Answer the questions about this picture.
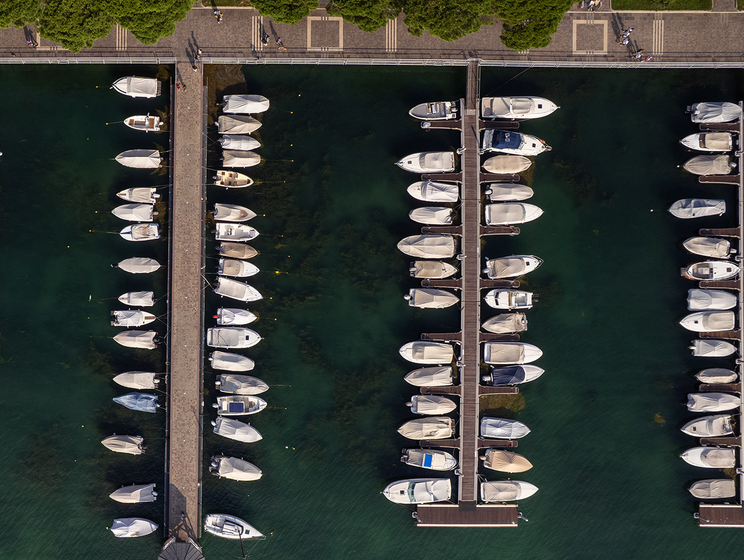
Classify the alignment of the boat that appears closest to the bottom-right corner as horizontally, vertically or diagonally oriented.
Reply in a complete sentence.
The boat that appears closest to the bottom-right corner is laid out horizontally.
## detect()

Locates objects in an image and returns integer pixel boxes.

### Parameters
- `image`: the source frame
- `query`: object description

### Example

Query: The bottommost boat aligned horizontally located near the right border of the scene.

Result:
[684,476,740,501]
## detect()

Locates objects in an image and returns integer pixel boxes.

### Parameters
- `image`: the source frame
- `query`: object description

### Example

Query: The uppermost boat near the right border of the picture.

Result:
[680,98,743,125]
